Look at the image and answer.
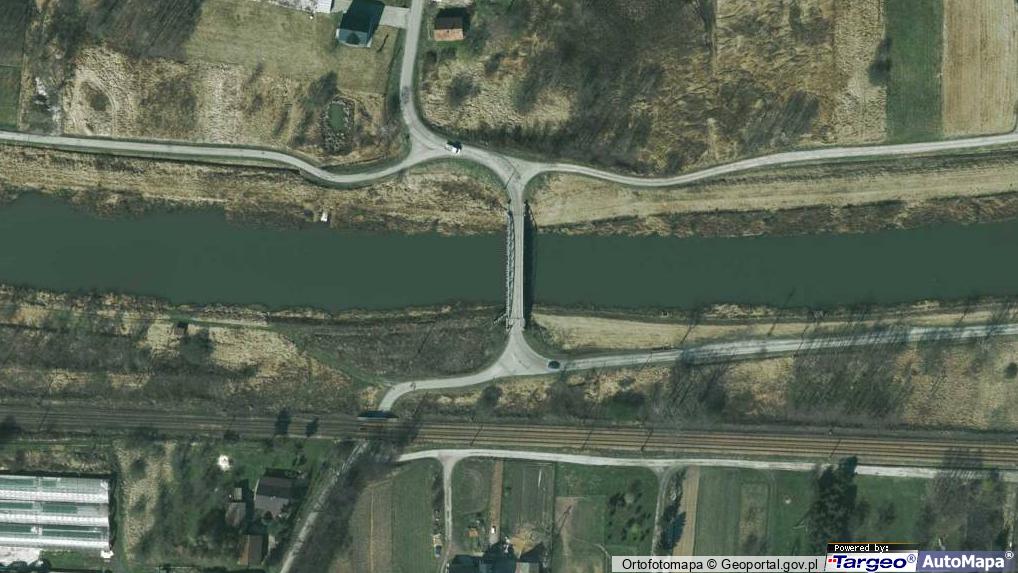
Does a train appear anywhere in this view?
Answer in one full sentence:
No, there isn't any train down there.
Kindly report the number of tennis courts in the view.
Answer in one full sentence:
The picture shows no tennis courts.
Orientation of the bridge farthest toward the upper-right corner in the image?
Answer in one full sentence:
What the image shows is the bridge farthest toward the upper-right corner lying up and down.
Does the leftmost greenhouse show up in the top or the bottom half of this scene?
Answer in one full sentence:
Seen from above, the leftmost greenhouse lies in the bottom half of the view.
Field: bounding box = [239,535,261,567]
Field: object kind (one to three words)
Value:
barn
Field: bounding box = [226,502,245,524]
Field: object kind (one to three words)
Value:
shed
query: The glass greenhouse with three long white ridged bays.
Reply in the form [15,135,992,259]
[0,474,109,550]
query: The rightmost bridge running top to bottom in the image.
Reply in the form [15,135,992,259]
[492,203,534,329]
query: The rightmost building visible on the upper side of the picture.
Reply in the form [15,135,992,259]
[434,16,464,41]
